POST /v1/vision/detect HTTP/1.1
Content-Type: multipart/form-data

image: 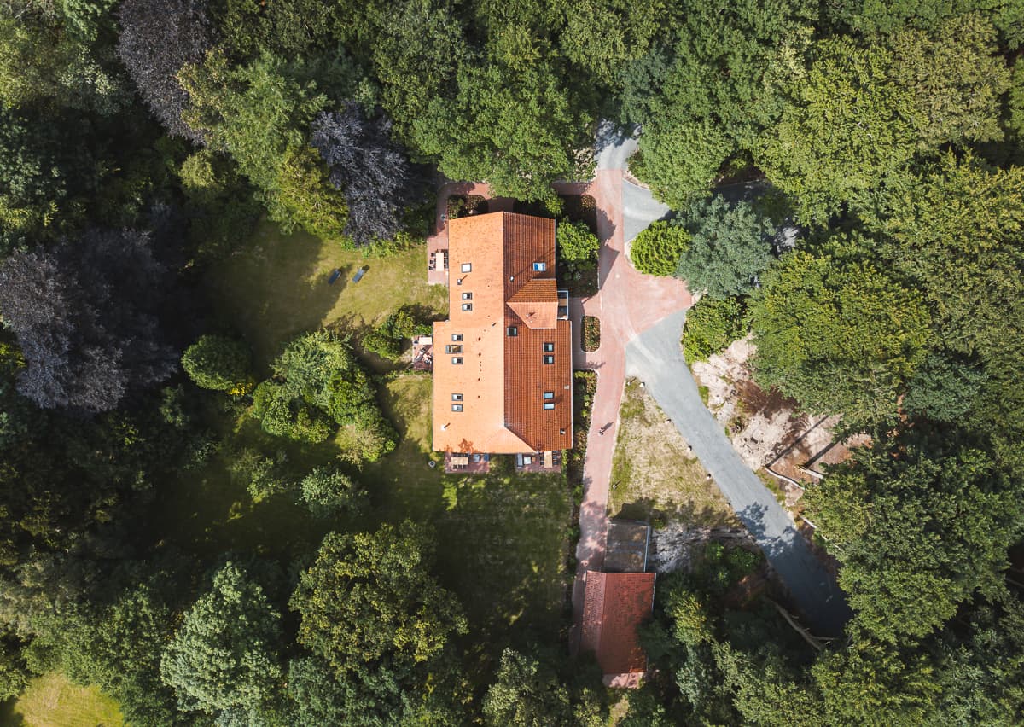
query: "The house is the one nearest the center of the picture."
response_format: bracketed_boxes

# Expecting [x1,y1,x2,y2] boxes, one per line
[431,213,574,454]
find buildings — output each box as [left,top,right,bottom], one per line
[431,213,574,454]
[580,565,653,673]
